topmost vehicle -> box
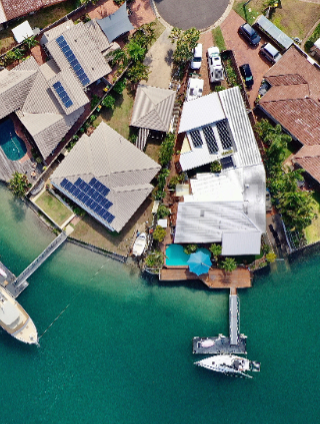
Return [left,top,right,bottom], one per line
[237,25,261,48]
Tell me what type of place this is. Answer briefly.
residential area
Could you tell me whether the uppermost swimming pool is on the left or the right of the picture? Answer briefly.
left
